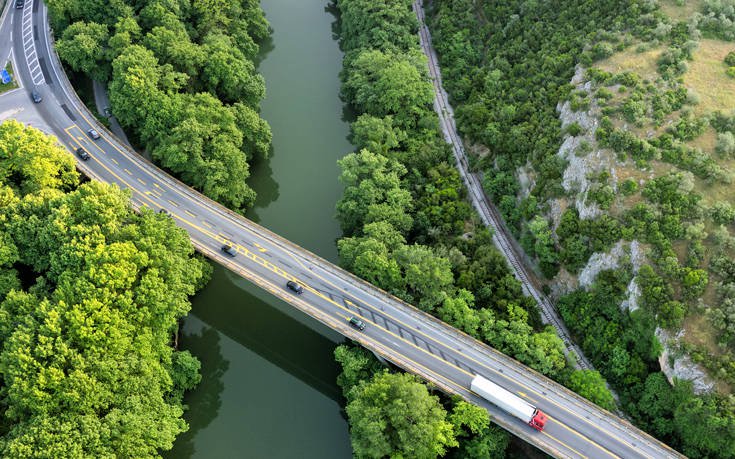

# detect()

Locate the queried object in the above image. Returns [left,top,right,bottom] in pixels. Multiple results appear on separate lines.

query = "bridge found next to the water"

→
[52,116,699,459]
